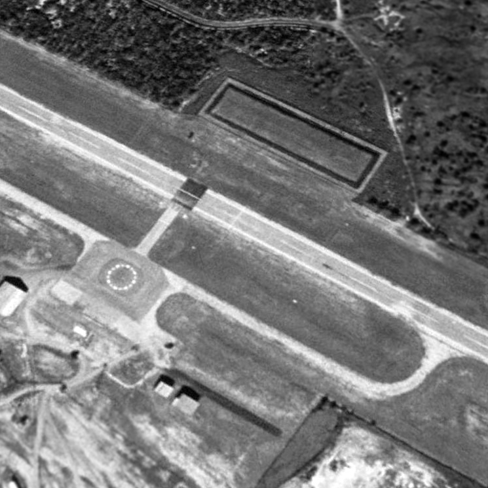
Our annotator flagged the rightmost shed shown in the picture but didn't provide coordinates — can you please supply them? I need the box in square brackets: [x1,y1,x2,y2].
[172,394,200,417]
